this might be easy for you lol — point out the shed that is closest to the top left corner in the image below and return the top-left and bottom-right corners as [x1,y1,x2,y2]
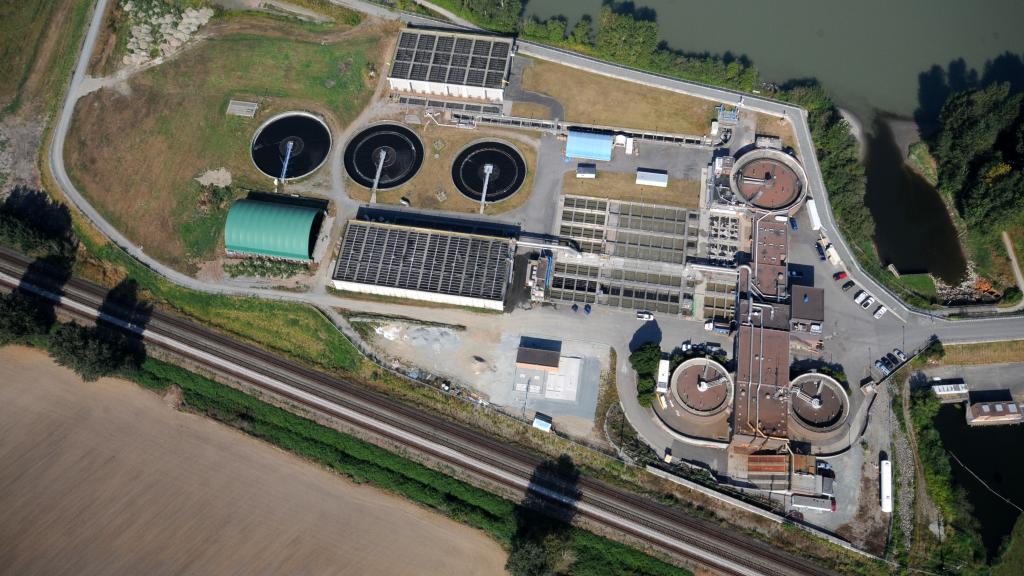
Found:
[224,200,327,266]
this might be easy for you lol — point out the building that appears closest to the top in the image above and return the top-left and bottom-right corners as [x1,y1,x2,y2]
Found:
[387,28,517,103]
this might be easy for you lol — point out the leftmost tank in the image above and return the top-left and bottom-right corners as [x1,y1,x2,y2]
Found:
[250,112,333,183]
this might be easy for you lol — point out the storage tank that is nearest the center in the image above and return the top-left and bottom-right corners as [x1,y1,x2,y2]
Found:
[450,138,529,213]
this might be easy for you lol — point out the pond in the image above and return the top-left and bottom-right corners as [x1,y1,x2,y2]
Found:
[937,403,1024,559]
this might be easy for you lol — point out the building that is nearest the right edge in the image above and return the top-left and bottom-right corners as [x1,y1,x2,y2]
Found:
[966,390,1024,425]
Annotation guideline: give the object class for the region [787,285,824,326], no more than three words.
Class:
building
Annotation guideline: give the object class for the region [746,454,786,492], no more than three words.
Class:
house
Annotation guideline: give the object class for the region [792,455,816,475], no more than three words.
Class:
shed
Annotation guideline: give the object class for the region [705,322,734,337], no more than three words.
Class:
vehicle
